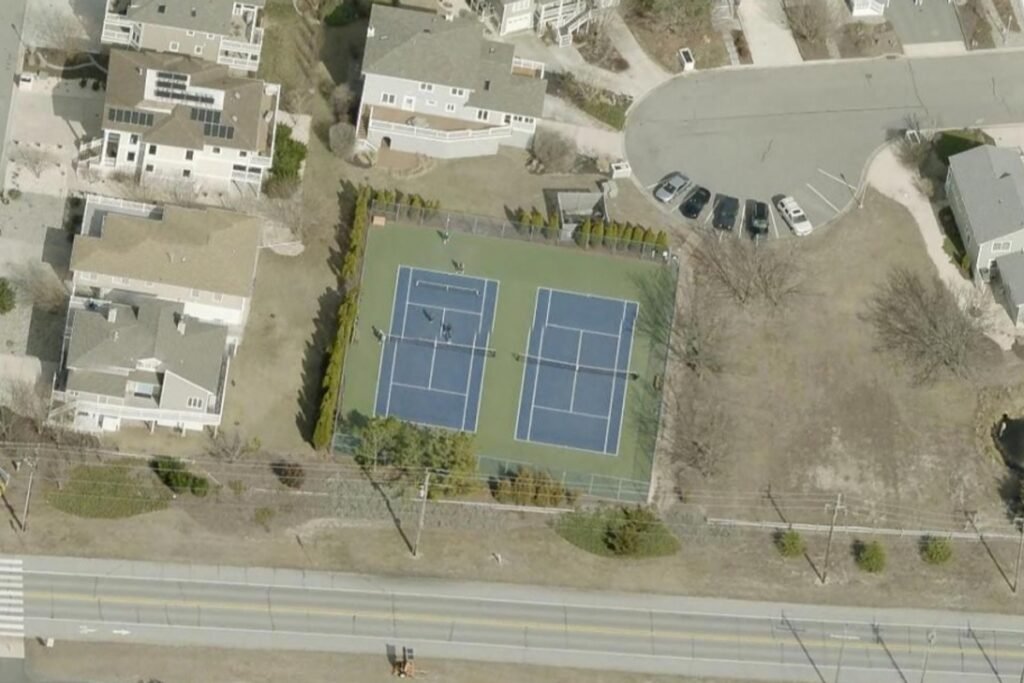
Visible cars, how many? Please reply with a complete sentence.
There are 5 cars in the image.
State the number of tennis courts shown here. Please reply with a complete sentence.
The count of tennis courts comes to 2.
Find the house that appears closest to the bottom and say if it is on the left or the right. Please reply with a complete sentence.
The house that appears closest to the bottom is on the left side of the image.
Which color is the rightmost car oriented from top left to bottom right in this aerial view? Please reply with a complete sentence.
The rightmost car oriented from top left to bottom right looks white in the image.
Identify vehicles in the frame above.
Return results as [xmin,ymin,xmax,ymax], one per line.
[682,188,715,219]
[753,201,773,236]
[780,197,812,235]
[715,194,740,232]
[656,176,692,204]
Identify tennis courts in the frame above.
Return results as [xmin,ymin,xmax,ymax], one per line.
[334,223,520,478]
[491,244,677,502]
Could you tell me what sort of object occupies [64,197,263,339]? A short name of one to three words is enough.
house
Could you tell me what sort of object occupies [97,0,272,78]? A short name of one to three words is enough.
house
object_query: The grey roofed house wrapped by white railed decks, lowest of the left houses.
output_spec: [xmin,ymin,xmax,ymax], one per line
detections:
[38,291,239,441]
